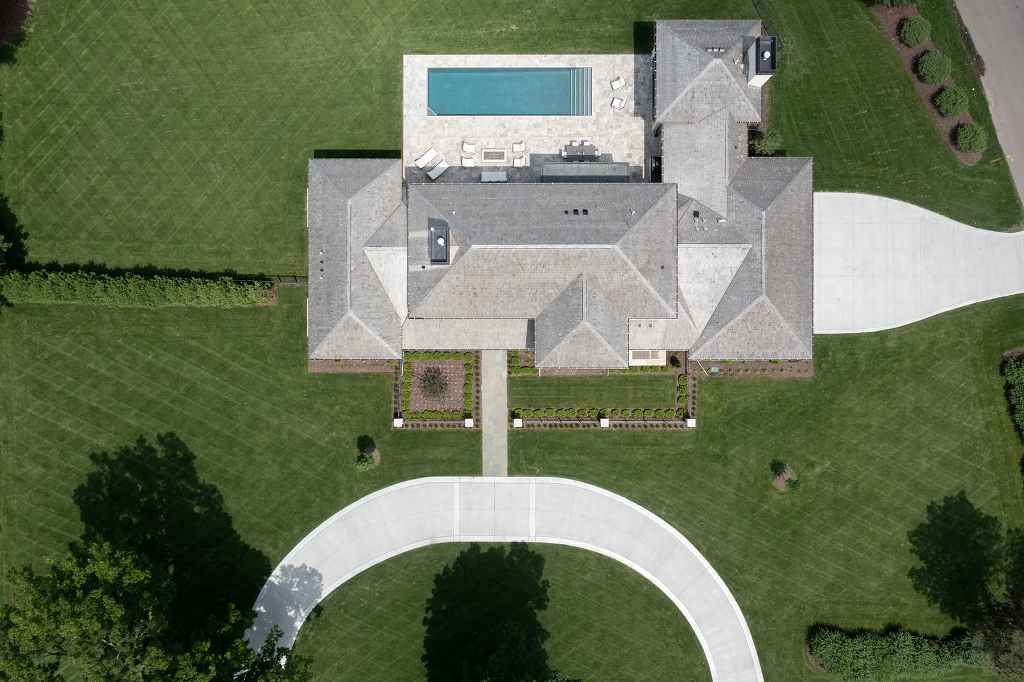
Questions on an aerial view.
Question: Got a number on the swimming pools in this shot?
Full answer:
In total, there is 1 swimming pool in the scene.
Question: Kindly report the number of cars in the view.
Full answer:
There are no cars in this view.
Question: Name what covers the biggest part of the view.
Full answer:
The bulk of the photo consists of grass.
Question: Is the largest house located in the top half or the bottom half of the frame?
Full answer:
You can find the largest house in the top half.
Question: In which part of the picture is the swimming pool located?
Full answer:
The swimming pool sits in the top section of the image.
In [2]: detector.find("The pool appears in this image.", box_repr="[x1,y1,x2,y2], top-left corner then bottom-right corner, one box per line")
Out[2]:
[428,68,591,118]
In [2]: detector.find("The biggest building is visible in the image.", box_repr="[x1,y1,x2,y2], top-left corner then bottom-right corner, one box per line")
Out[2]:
[307,18,815,371]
